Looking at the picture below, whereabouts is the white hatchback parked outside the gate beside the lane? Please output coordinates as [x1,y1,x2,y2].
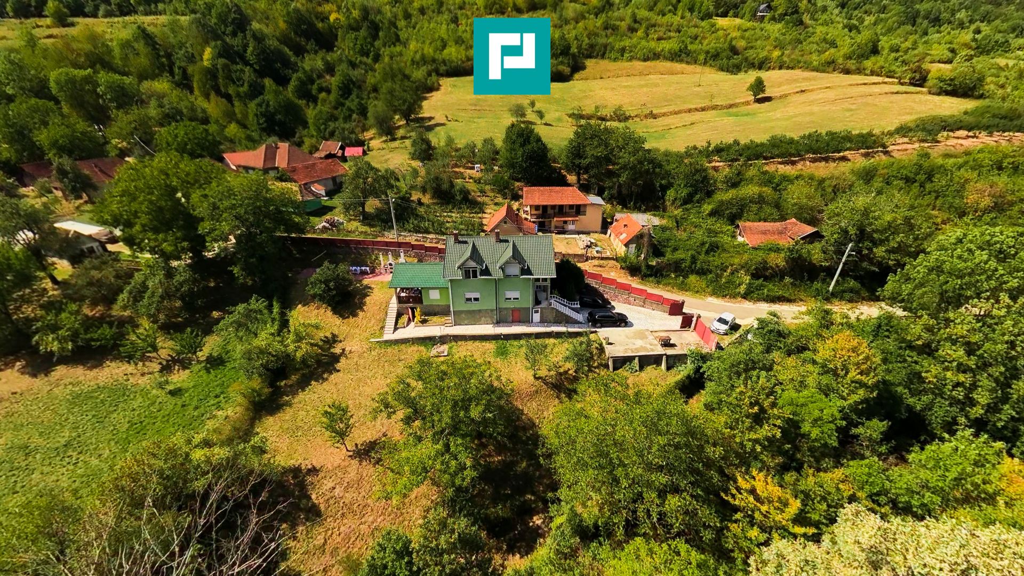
[710,308,733,334]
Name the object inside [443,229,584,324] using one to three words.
building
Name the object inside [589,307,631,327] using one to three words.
car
